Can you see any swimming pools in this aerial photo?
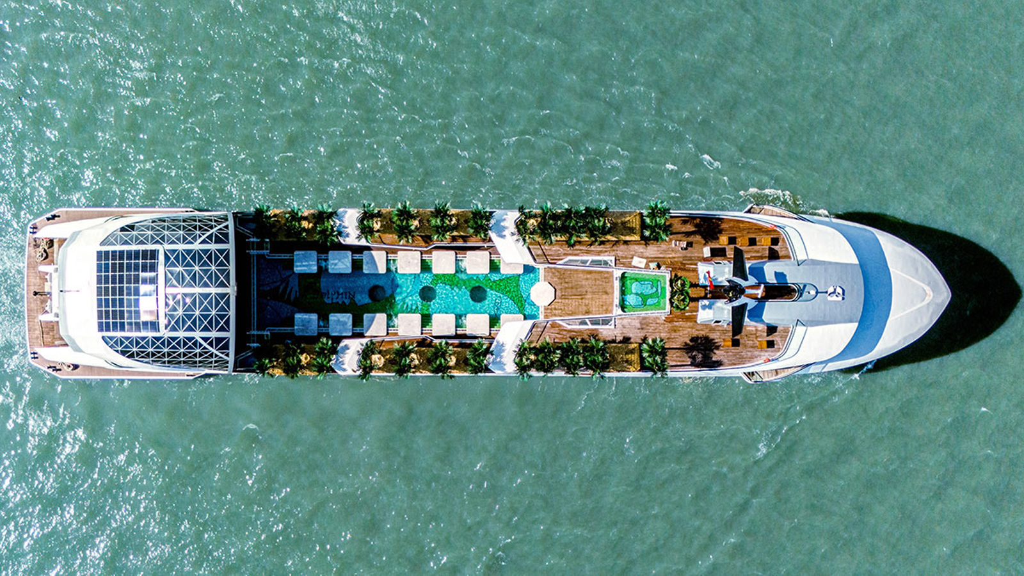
Yes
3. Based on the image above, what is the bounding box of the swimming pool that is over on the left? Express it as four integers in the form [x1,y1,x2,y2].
[257,254,544,333]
